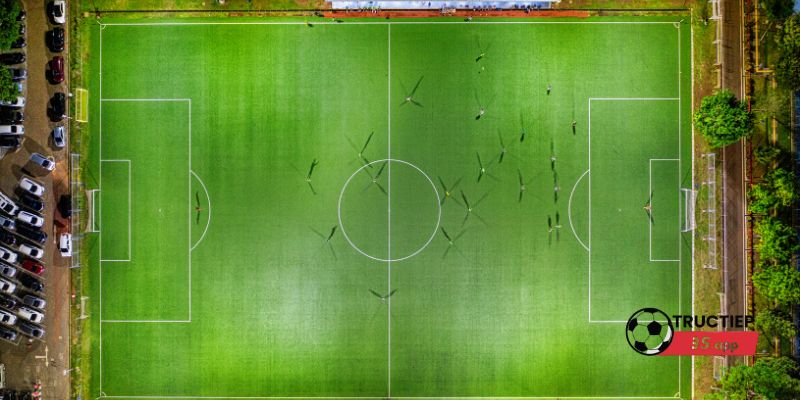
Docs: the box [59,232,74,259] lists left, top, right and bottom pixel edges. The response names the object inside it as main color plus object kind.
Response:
white vehicle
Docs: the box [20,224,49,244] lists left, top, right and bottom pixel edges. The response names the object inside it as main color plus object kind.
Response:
black car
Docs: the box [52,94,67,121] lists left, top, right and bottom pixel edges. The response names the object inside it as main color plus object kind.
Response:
black vehicle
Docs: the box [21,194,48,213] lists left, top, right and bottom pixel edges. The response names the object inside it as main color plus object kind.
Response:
black car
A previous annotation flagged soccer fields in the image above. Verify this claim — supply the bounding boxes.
[89,16,692,400]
